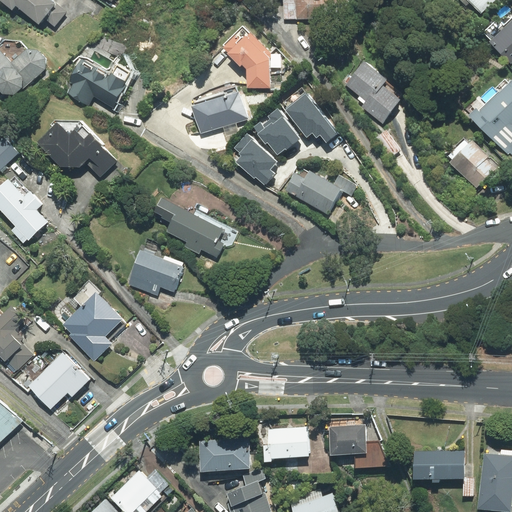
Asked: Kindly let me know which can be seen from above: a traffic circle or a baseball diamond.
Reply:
traffic circle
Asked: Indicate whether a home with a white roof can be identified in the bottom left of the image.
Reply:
Yes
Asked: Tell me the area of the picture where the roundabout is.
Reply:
bottom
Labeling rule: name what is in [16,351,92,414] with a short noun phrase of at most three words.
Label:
house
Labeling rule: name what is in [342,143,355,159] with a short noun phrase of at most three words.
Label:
vehicle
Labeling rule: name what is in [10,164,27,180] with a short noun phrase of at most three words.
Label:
vehicle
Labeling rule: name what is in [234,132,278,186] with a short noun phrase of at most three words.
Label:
house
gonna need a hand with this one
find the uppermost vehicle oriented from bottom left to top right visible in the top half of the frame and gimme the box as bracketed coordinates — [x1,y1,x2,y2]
[214,51,228,66]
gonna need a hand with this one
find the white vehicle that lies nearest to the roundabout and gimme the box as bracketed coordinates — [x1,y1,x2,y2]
[182,354,196,370]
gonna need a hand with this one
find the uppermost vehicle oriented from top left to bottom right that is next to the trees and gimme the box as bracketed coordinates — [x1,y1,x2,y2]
[296,35,310,51]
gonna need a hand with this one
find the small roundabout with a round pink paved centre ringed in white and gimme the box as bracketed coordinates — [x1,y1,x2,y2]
[190,352,237,400]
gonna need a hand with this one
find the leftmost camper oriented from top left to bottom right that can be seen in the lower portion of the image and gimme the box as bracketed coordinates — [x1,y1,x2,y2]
[34,316,51,334]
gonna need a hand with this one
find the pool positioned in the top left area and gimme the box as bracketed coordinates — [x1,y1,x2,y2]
[90,50,113,70]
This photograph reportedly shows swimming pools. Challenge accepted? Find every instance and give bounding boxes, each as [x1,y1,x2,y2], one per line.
[90,50,113,70]
[497,6,512,18]
[480,86,498,104]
